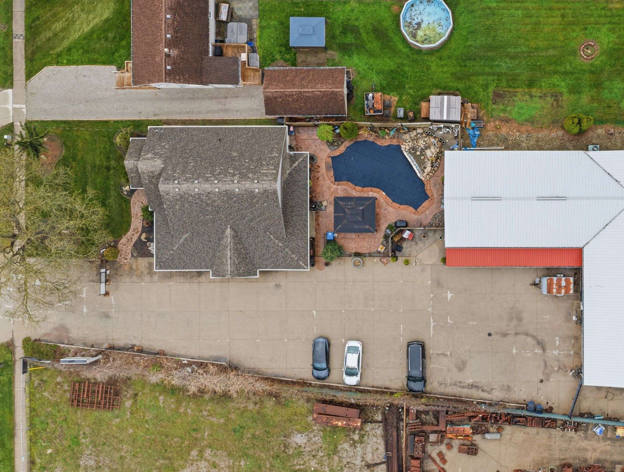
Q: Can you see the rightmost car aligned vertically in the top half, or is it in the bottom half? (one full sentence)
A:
It is in the bottom half that the rightmost car aligned vertically appears.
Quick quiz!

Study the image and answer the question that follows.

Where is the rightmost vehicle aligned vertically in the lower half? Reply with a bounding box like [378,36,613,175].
[405,341,428,391]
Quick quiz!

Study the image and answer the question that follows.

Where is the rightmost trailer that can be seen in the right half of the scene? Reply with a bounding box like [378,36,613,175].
[530,274,573,296]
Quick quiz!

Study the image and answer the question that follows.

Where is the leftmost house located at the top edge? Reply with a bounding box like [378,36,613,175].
[130,0,245,88]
